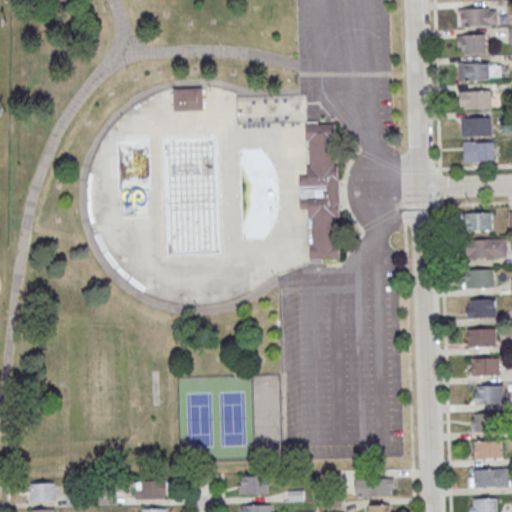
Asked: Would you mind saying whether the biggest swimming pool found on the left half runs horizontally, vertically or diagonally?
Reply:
vertically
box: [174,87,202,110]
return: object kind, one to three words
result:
building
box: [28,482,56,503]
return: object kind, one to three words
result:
house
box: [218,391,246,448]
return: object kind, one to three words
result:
tennis court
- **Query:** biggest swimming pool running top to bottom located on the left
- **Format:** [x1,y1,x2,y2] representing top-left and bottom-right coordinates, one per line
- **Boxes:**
[164,137,220,256]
